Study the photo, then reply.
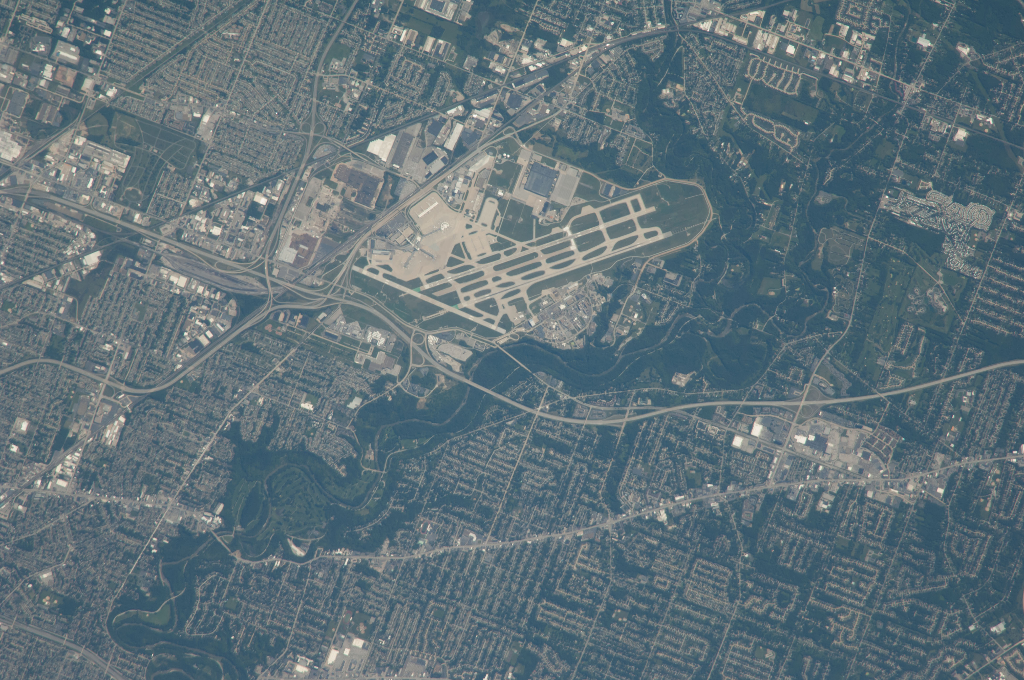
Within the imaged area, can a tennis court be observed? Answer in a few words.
No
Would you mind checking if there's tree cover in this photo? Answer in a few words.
Yes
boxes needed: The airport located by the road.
[336,150,731,353]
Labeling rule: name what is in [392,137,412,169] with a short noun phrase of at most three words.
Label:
building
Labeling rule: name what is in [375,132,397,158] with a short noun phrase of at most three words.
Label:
building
